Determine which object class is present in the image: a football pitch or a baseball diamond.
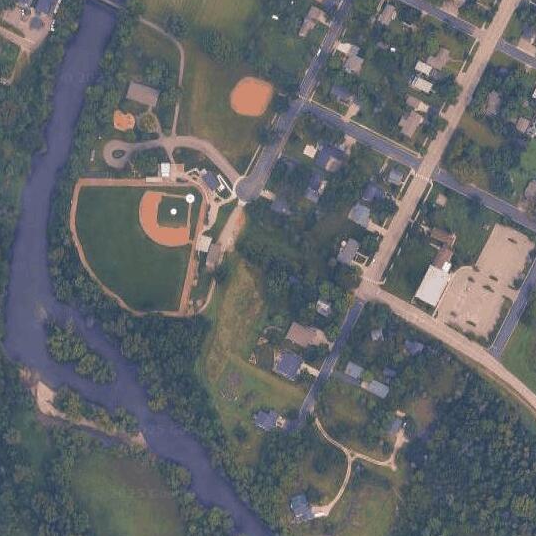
baseball diamond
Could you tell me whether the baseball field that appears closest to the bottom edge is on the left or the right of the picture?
left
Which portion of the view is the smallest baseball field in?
top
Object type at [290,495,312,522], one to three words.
house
